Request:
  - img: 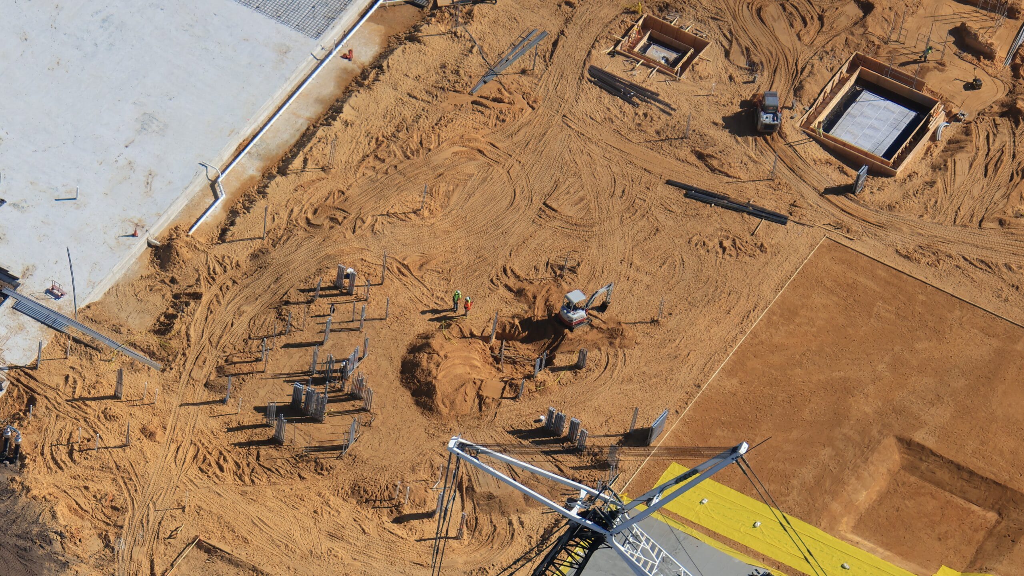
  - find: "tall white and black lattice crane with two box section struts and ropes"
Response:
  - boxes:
[431,431,826,576]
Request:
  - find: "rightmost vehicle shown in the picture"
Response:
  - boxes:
[754,86,785,132]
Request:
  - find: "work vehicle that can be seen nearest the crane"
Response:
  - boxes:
[555,280,616,339]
